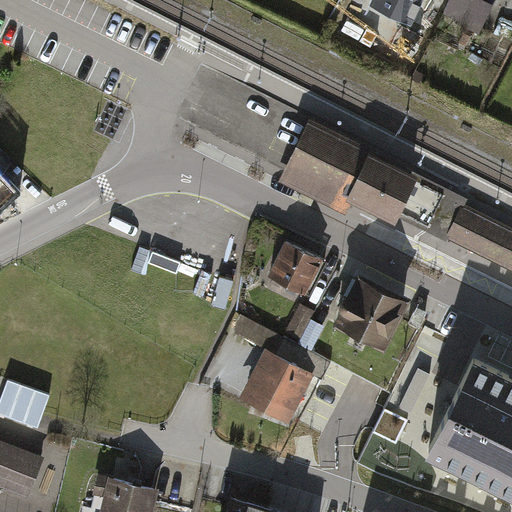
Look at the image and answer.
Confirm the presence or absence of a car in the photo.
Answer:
Yes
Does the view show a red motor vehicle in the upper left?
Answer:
Yes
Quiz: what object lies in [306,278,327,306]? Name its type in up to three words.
vehicle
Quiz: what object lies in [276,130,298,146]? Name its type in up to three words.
car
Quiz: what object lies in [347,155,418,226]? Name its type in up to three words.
building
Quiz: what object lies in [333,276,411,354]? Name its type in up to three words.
house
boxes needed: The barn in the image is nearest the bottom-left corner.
[0,440,44,498]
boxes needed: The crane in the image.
[326,0,416,65]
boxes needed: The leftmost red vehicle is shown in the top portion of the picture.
[2,23,18,46]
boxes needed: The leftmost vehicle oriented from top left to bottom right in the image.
[22,179,44,202]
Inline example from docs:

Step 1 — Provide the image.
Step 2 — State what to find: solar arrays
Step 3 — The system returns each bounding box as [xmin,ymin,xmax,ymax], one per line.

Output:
[448,432,512,478]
